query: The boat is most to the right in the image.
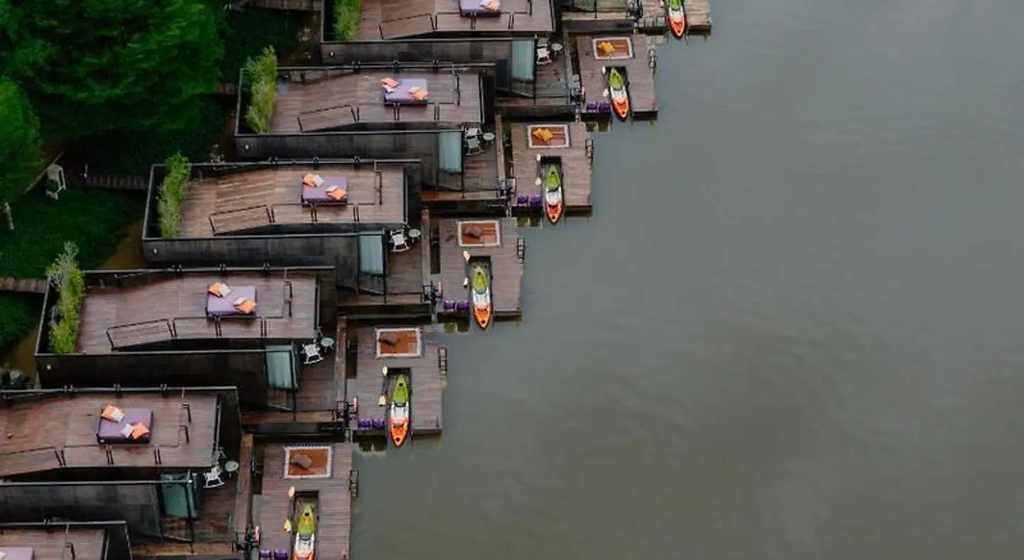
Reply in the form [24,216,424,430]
[665,0,686,40]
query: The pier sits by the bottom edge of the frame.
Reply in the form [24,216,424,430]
[249,442,350,560]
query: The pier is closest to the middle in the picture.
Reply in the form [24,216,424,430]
[431,217,522,322]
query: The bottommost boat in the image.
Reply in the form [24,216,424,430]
[292,498,318,560]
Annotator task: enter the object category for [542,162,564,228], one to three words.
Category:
boat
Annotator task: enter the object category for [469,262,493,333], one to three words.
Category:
boat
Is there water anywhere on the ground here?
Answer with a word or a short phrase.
Yes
